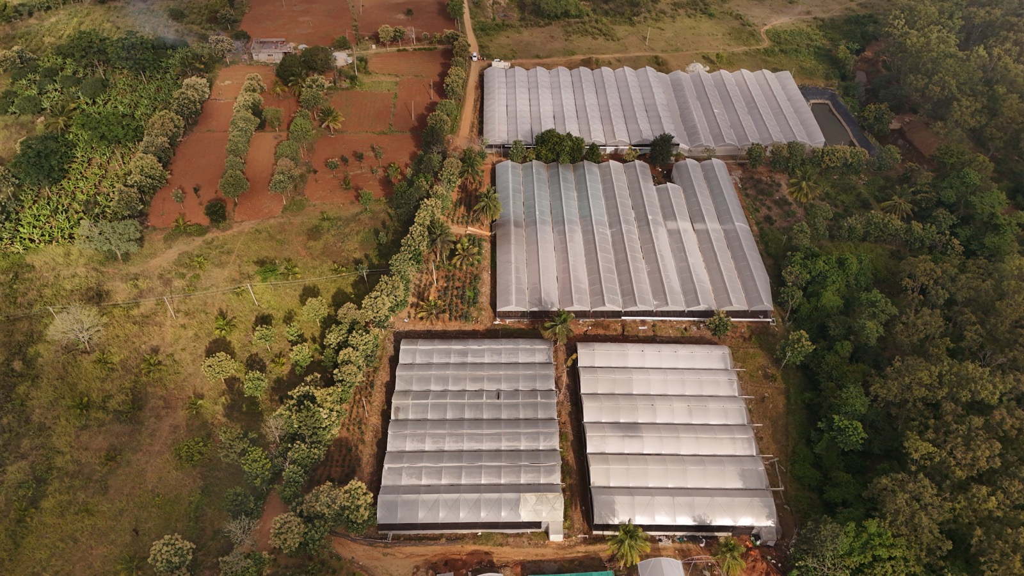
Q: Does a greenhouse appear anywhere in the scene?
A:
Yes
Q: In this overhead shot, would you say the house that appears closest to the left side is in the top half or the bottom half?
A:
top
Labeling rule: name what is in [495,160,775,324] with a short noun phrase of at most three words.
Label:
greenhouse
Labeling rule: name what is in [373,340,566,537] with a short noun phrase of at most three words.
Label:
greenhouse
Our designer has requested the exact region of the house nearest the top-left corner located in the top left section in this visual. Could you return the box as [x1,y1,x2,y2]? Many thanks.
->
[248,38,297,62]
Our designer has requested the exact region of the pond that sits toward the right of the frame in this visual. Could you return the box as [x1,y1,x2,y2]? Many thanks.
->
[798,86,909,176]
